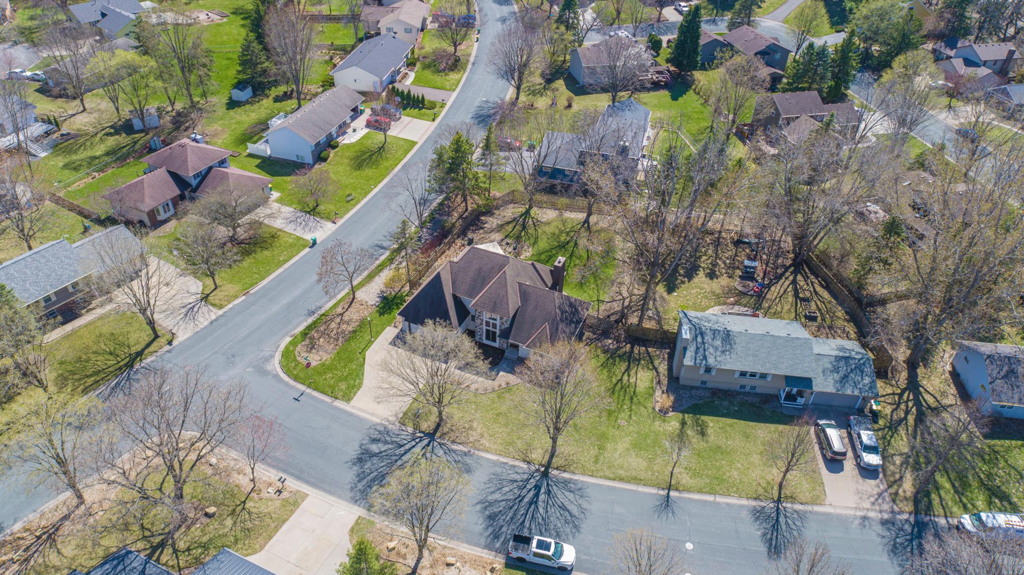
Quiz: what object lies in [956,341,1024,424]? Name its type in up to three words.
house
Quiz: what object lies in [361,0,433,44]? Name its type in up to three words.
house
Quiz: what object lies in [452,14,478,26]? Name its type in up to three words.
vehicle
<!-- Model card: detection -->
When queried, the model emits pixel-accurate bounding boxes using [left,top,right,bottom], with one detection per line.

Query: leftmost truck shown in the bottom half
[506,529,577,570]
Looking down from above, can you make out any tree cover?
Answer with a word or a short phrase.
Yes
